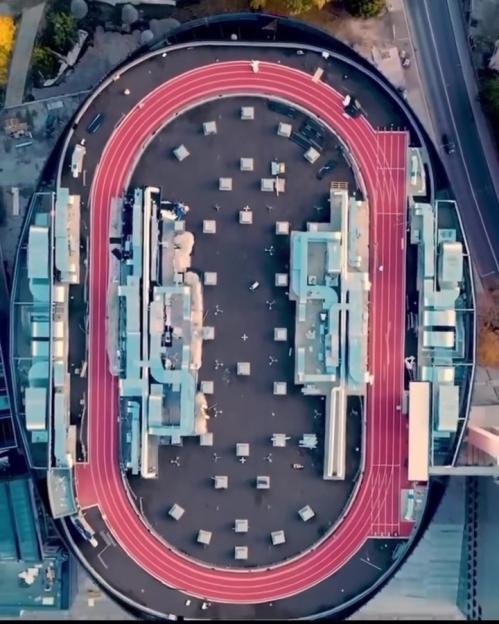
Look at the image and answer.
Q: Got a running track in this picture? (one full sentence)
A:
Yes, a running track appears in the view.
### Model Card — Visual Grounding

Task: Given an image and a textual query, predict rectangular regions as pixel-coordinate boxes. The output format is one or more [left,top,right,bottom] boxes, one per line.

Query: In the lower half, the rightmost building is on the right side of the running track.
[451,408,499,463]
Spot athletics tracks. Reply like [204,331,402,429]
[76,60,415,604]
